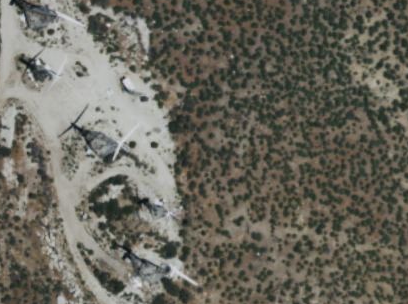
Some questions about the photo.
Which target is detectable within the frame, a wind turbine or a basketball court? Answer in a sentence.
This aerial view contains a wind turbine.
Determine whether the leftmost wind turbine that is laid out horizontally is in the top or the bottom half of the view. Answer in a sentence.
Seen from above, the leftmost wind turbine that is laid out horizontally lies in the top half of the view.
